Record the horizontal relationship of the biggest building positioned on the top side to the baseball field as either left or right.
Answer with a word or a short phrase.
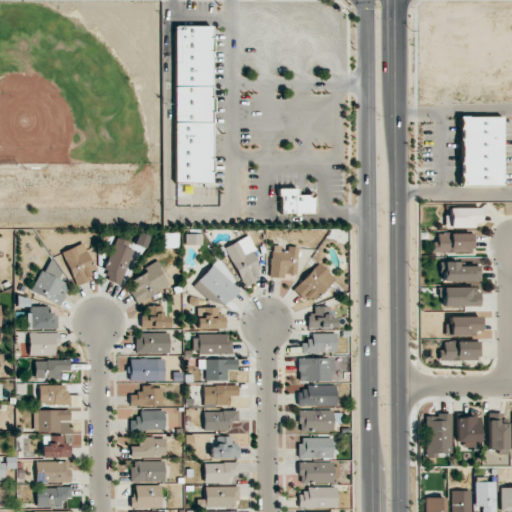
to the right of it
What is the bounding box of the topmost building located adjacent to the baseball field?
[177,24,215,183]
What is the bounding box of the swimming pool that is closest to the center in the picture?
[212,232,231,244]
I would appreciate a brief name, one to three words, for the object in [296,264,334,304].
house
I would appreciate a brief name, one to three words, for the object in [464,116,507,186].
building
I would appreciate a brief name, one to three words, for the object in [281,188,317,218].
building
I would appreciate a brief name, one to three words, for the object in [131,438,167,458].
house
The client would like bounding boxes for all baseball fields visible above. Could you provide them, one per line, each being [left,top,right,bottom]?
[0,3,150,166]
